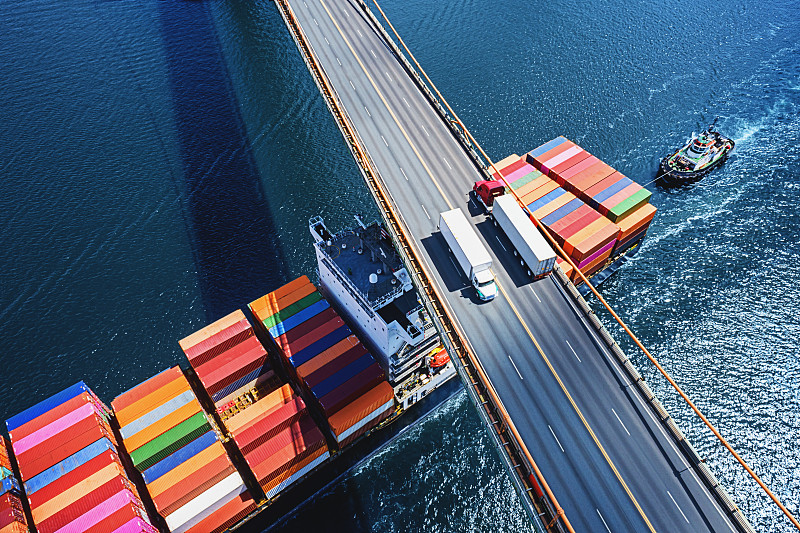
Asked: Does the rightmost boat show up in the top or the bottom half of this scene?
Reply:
top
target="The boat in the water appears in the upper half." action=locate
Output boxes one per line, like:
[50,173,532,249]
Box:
[656,120,740,188]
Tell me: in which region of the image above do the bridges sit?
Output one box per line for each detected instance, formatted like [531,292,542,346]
[273,0,800,533]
